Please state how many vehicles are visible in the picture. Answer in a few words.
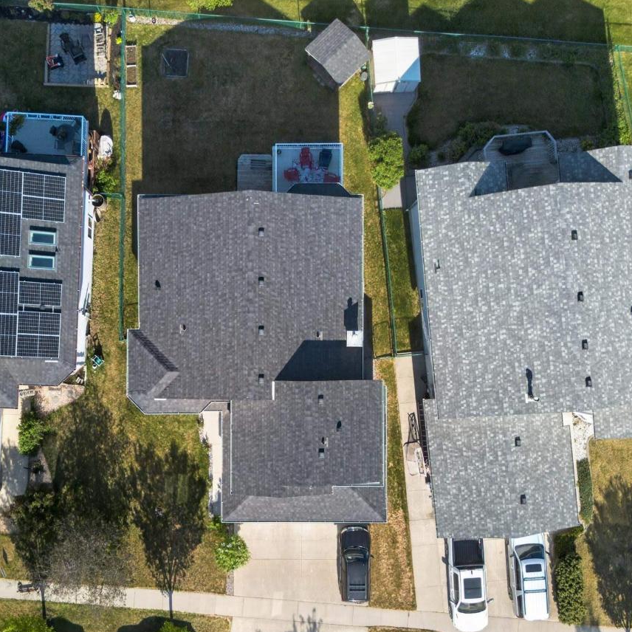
3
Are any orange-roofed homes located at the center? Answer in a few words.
No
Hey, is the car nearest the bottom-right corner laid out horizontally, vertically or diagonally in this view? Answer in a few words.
vertically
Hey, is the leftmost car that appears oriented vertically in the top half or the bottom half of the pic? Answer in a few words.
bottom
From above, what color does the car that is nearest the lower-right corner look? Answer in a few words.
white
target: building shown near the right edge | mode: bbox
[406,145,632,537]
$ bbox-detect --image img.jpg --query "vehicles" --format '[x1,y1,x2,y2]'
[450,537,490,630]
[510,533,551,622]
[337,525,373,602]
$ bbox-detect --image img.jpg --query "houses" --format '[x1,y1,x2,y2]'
[0,152,98,432]
[406,145,632,537]
[126,181,388,522]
